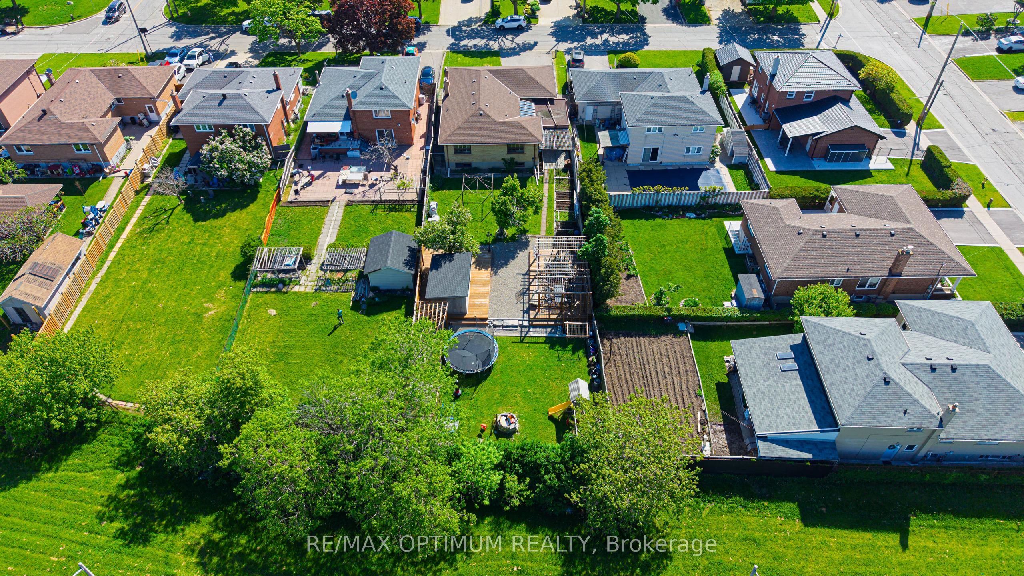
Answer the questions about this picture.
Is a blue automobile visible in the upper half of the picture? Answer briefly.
Yes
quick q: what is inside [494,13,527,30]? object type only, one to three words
car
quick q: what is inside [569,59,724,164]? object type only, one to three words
house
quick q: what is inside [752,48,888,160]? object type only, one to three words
house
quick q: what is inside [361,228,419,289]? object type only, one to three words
shed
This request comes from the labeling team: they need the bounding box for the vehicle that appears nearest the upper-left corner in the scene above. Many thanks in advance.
[99,0,131,22]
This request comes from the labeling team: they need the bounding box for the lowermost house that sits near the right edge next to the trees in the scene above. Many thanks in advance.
[727,299,1024,471]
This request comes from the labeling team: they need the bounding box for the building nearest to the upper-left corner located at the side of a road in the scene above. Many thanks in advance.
[0,58,44,130]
